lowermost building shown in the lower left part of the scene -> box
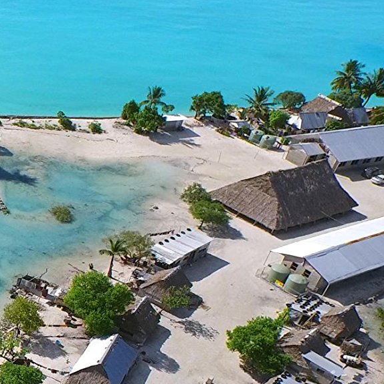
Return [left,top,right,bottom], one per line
[65,331,138,384]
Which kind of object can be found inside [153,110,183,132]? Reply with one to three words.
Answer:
building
